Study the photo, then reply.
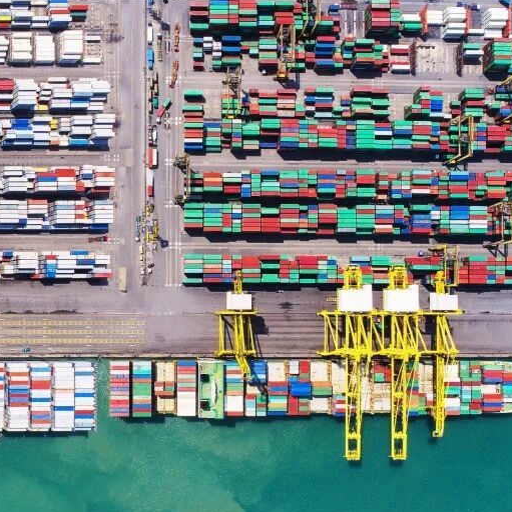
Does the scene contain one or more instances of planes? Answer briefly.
No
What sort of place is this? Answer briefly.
port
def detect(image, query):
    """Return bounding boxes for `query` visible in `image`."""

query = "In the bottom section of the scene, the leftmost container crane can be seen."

[205,265,260,395]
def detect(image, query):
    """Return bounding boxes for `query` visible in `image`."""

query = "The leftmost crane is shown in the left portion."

[172,154,191,204]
